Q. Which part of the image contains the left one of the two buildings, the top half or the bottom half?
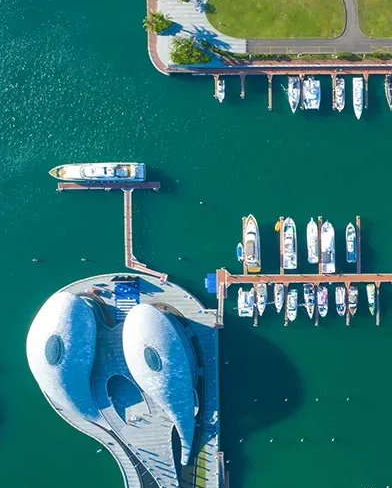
bottom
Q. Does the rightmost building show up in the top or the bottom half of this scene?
bottom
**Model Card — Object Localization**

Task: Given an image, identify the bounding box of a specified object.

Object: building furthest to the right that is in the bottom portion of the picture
[122,303,200,466]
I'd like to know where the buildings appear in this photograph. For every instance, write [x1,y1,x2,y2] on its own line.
[25,291,113,431]
[122,303,200,466]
